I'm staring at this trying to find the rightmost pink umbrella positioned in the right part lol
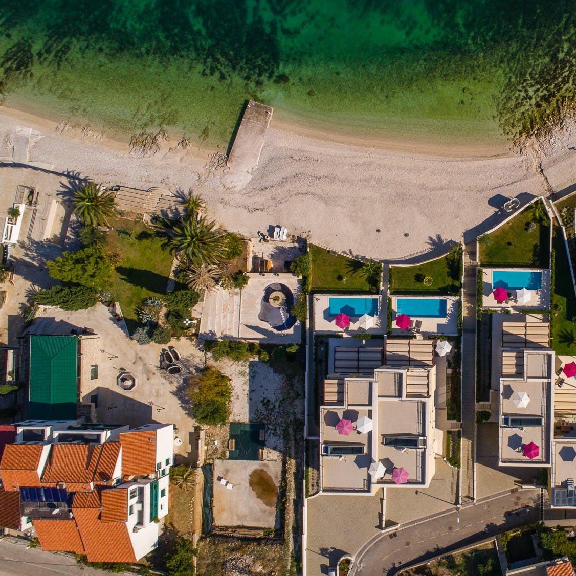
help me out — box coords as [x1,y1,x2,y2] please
[563,360,576,379]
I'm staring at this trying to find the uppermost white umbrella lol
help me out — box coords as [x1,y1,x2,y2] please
[516,287,530,305]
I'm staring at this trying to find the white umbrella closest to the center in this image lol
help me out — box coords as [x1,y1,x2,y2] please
[358,313,373,329]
